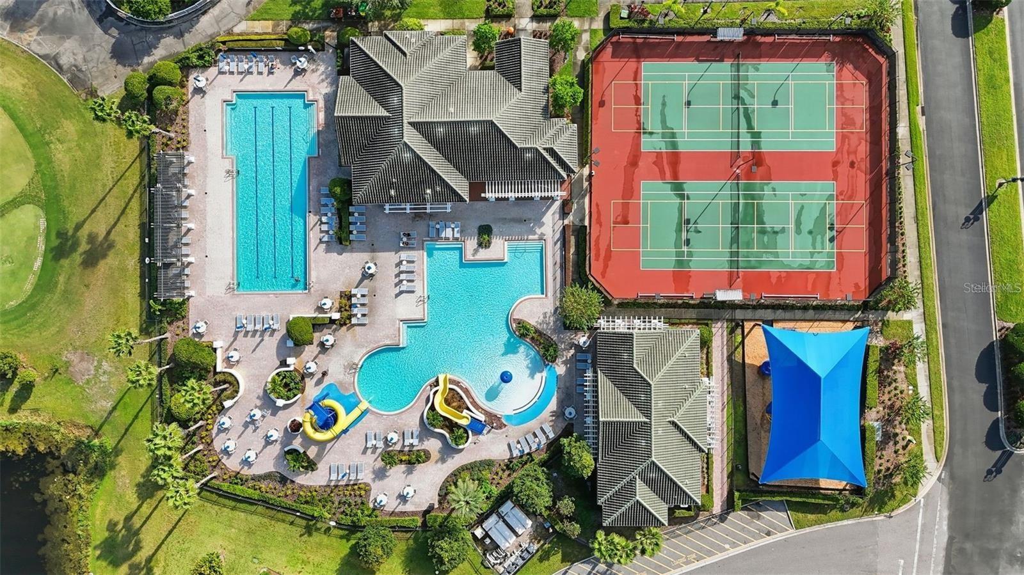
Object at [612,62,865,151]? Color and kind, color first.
green tennis court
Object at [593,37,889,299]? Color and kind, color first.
red sports court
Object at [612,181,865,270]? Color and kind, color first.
green tennis court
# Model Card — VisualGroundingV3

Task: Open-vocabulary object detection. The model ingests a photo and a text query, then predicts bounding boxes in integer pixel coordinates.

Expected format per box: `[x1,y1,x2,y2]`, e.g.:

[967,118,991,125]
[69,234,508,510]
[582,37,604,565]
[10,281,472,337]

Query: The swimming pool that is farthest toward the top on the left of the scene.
[222,89,321,296]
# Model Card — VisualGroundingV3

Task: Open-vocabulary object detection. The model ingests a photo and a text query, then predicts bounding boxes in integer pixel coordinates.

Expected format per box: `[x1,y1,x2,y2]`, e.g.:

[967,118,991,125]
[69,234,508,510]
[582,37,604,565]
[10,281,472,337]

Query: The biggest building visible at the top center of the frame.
[329,29,578,204]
